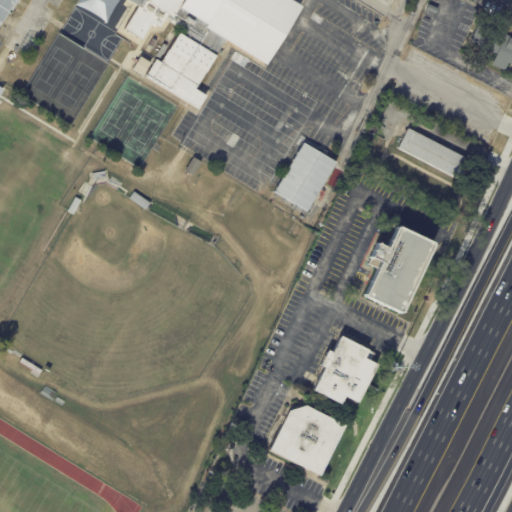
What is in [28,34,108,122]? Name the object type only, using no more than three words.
tennis court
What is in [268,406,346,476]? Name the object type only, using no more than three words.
building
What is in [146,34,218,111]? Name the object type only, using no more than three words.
building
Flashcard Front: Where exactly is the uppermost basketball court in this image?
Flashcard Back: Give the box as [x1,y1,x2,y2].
[62,0,131,62]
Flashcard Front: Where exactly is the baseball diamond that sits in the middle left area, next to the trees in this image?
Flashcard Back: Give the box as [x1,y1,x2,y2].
[8,182,252,402]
